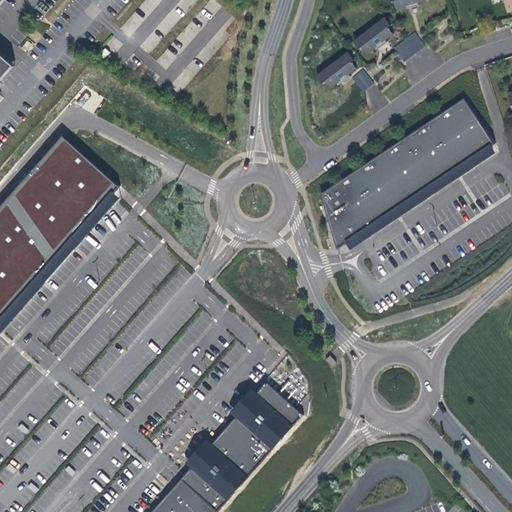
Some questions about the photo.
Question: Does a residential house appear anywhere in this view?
Yes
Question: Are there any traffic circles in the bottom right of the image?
Yes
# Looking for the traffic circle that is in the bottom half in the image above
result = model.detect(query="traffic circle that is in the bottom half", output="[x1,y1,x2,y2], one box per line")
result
[340,332,442,459]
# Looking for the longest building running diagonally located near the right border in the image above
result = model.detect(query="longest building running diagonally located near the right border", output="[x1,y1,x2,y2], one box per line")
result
[322,98,500,254]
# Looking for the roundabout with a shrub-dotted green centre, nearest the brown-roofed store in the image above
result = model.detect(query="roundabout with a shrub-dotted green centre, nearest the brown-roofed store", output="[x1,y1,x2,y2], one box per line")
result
[206,94,317,258]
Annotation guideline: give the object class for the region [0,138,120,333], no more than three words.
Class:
building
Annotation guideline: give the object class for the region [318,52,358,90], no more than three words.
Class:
house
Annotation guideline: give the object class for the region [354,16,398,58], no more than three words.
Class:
house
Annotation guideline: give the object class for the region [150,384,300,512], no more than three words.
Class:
building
